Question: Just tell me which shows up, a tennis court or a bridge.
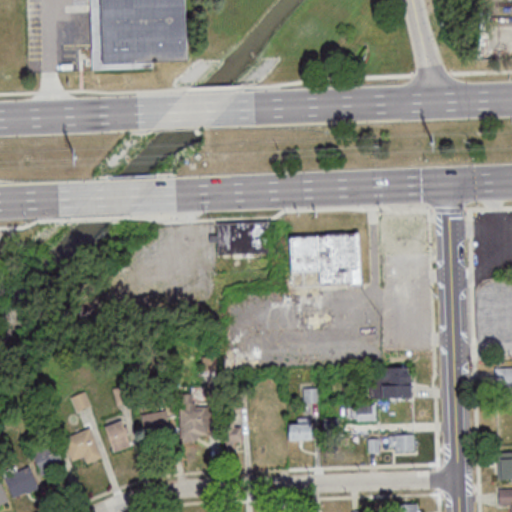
bridge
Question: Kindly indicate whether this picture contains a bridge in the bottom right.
No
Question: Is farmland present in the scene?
No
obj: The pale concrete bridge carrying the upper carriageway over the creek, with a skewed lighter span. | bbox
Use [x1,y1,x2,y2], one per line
[136,86,254,133]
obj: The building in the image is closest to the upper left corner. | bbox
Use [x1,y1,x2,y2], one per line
[90,0,188,71]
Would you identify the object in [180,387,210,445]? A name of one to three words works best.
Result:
house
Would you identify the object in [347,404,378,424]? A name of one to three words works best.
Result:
house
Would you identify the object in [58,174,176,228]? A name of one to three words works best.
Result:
bridge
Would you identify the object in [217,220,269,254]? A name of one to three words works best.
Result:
building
